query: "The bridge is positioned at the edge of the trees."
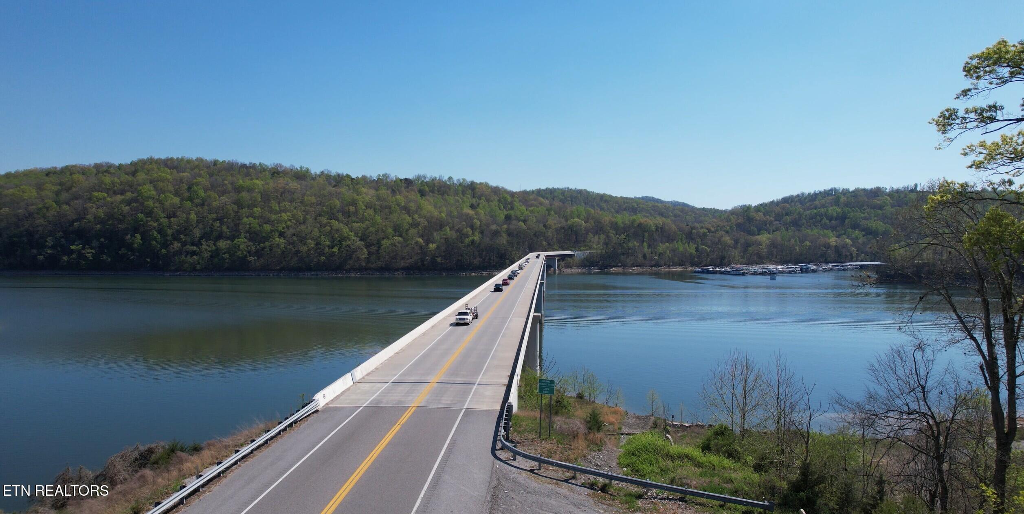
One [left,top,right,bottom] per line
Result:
[316,252,590,408]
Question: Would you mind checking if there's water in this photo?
Yes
